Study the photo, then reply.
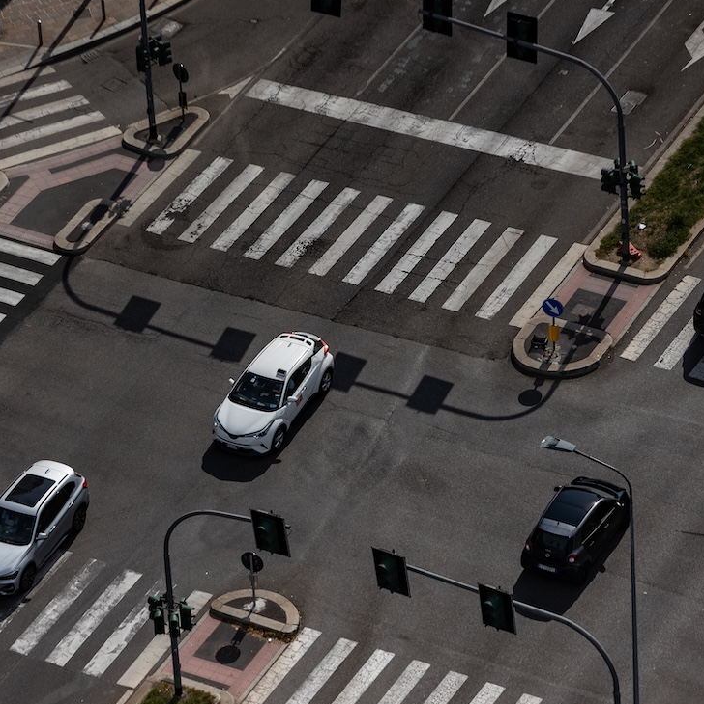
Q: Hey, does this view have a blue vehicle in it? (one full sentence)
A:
No, I can see no blue vehicle in this picture.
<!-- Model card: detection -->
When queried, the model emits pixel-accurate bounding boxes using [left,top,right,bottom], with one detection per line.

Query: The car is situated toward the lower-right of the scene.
[518,472,628,578]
